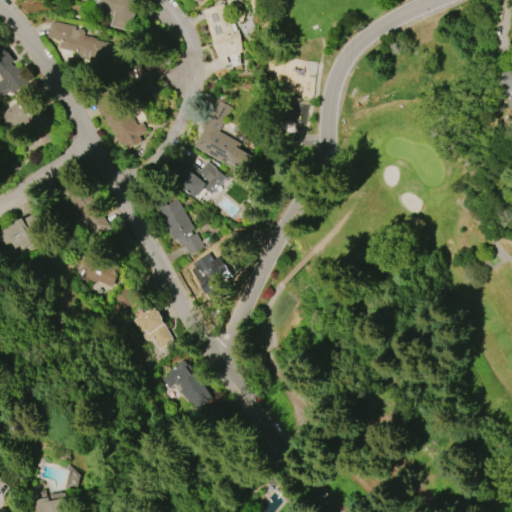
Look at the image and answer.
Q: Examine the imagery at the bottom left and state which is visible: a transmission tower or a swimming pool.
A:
swimming pool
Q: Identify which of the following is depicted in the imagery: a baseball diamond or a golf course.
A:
golf course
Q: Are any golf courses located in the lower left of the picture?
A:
No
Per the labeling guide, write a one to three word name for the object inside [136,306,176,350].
house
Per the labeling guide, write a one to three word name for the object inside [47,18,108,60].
house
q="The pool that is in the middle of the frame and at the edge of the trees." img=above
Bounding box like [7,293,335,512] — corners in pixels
[212,191,245,221]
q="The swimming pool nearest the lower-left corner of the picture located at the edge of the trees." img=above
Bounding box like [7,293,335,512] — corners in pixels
[38,462,70,492]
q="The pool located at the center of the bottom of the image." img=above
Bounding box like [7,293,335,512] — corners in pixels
[264,484,288,512]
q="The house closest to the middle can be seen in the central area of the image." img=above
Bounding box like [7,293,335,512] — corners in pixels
[187,252,234,294]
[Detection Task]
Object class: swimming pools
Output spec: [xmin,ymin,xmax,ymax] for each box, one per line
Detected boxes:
[212,191,245,221]
[264,484,288,512]
[38,462,70,492]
